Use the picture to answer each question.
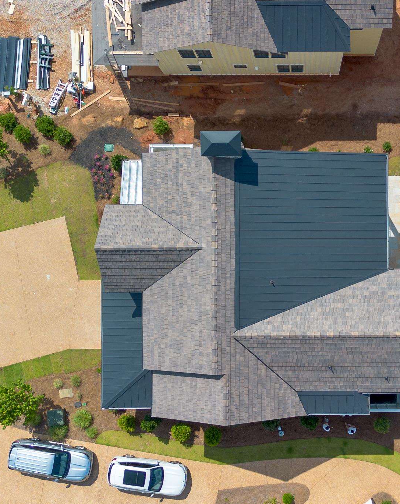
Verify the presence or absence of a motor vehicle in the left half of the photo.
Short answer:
Yes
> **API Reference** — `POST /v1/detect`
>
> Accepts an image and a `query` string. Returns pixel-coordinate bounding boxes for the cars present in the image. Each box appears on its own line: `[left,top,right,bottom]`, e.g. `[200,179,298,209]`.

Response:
[8,437,98,485]
[107,454,190,501]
